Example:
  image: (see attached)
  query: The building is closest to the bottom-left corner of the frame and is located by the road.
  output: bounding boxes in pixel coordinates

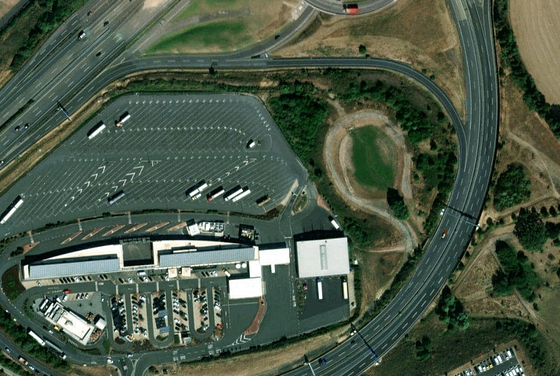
[47,303,94,343]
